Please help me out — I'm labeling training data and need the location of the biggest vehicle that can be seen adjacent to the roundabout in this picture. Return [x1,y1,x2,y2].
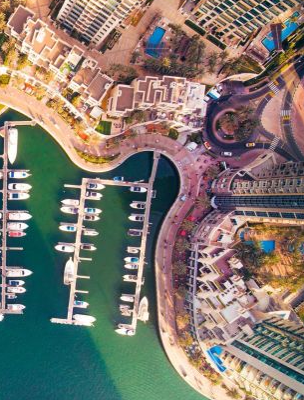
[207,85,223,100]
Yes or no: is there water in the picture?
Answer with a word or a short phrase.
Yes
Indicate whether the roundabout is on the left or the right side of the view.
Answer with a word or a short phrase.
right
